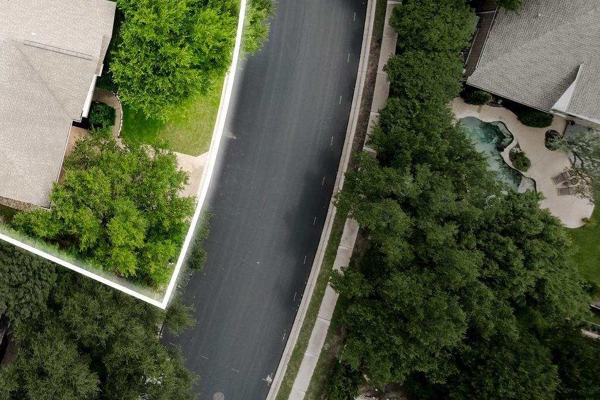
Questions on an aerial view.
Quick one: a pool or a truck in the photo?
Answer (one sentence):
This aerial view contains a pool.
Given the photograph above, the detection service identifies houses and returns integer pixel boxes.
[0,0,118,210]
[453,0,600,122]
